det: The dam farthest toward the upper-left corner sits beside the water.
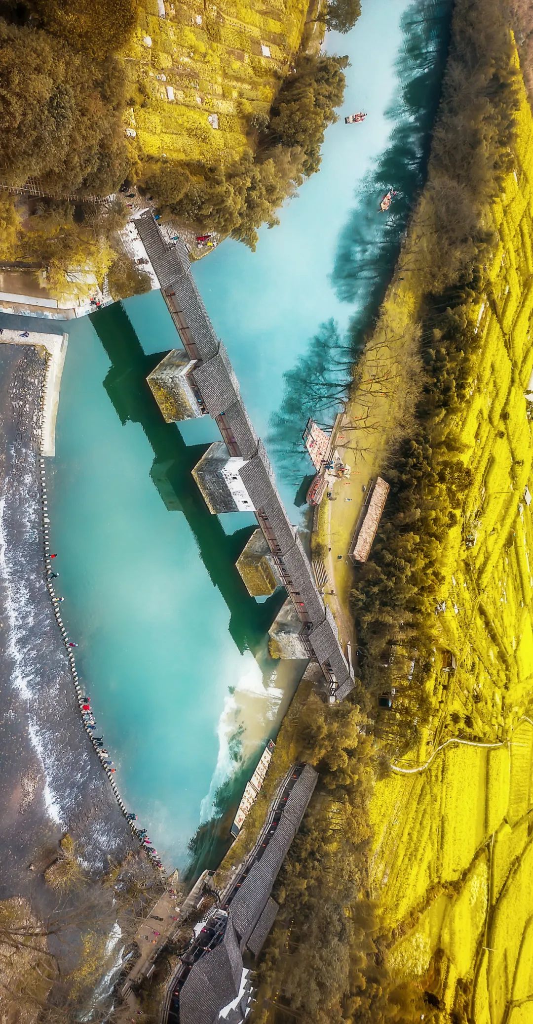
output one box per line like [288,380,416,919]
[0,330,63,455]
